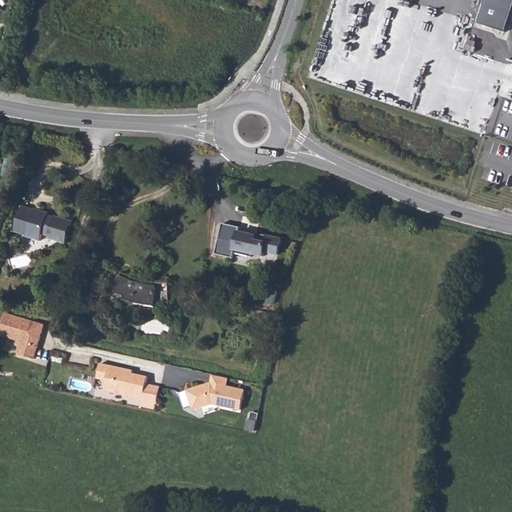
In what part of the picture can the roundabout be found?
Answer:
top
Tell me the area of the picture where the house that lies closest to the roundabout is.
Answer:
center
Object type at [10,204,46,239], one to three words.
house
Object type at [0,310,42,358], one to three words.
house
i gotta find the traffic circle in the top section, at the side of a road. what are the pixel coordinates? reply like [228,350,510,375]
[192,70,311,168]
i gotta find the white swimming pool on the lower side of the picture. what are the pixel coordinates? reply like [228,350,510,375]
[66,376,96,394]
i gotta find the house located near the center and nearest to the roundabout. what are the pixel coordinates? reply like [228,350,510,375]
[214,222,282,257]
